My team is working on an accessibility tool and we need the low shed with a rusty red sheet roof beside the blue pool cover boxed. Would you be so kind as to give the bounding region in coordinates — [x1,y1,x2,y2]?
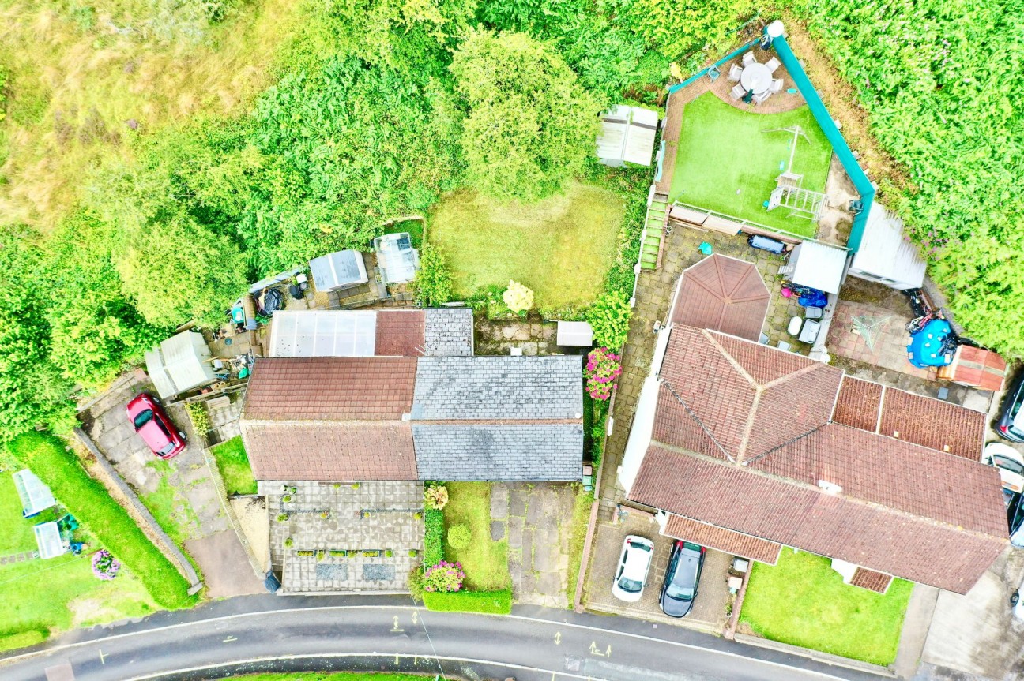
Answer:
[935,346,1008,392]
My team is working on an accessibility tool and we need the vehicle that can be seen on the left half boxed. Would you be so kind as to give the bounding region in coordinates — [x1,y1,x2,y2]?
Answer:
[122,392,182,466]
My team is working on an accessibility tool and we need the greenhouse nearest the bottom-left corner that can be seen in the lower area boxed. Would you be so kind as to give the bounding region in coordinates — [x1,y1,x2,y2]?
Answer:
[33,519,76,560]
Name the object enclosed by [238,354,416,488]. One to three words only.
house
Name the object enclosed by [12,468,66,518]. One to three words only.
greenhouse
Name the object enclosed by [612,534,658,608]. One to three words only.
car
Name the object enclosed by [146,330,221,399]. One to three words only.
shed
